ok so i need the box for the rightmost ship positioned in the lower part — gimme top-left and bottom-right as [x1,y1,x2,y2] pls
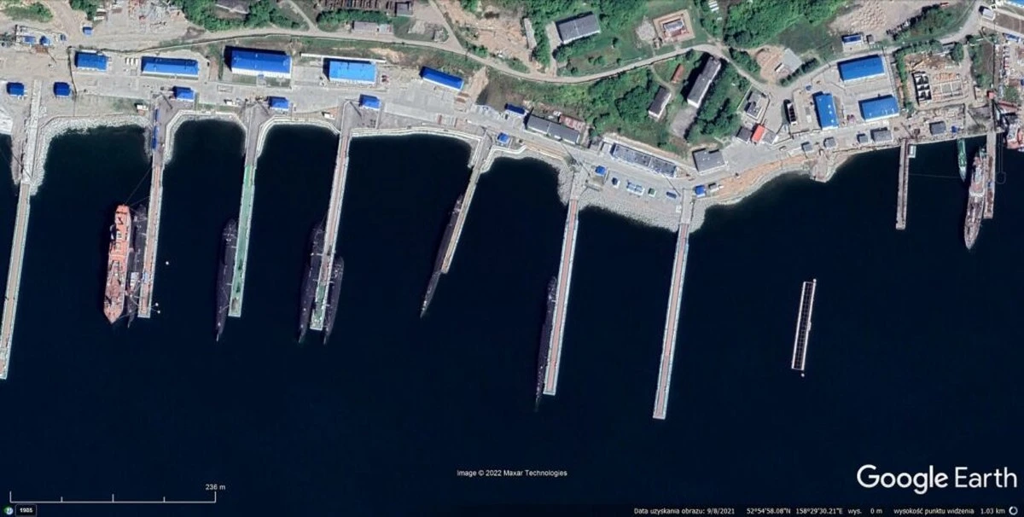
[535,276,557,412]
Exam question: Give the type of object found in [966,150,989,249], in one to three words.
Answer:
ship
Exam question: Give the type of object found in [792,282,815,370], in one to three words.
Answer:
pier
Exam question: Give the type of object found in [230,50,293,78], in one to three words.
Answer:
building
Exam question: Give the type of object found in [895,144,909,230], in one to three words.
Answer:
pier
